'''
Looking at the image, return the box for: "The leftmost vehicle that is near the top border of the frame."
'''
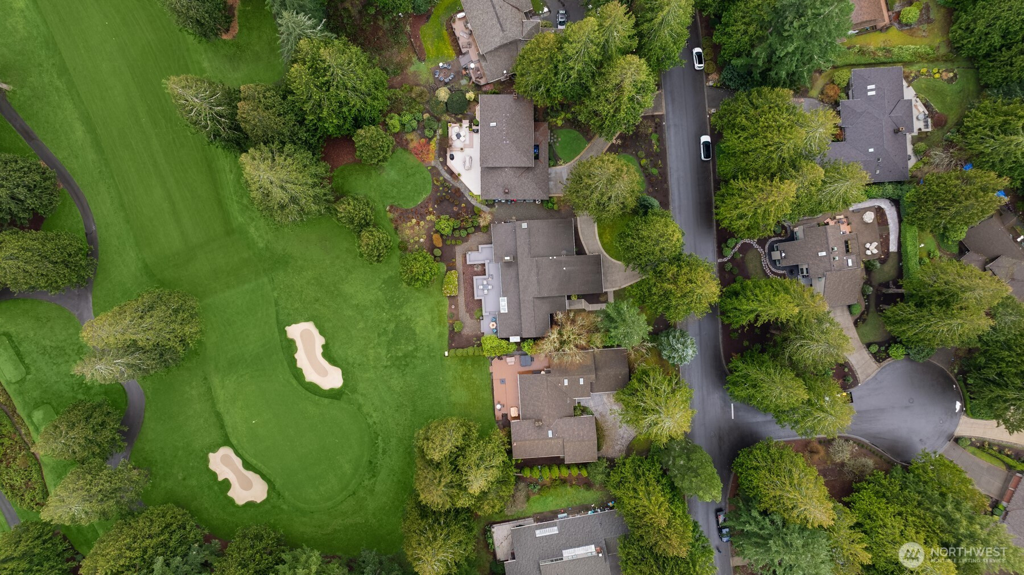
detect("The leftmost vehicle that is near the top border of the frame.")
[556,6,568,34]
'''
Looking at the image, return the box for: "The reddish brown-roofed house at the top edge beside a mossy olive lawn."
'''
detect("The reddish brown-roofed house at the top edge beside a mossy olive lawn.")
[847,0,890,36]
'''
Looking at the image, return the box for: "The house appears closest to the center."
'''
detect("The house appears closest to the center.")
[491,218,604,338]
